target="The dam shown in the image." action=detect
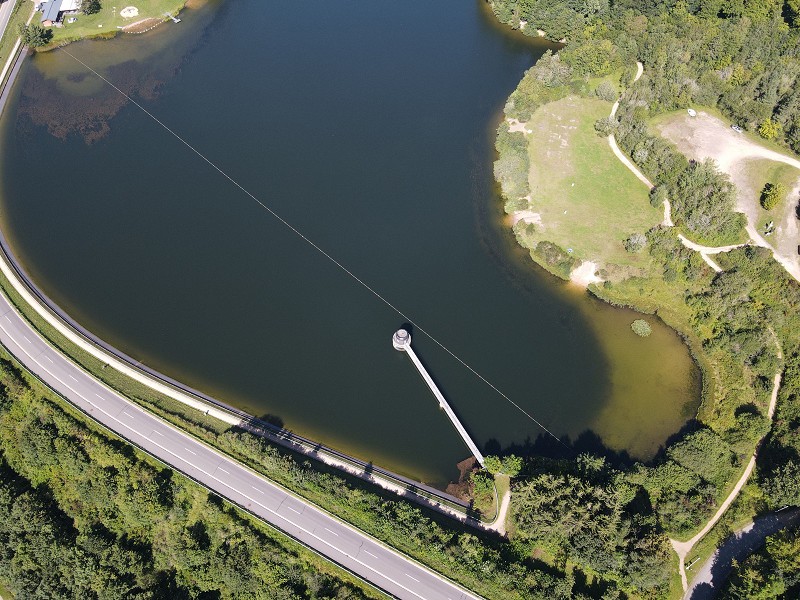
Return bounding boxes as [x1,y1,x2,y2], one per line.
[0,227,508,541]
